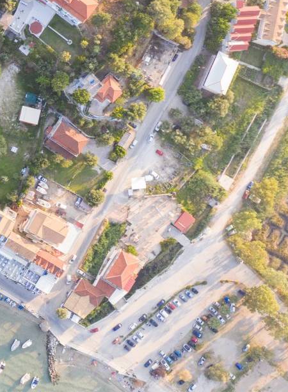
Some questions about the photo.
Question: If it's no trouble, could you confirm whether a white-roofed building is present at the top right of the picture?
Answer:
Yes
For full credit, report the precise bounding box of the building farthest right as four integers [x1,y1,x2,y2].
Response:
[250,0,288,47]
